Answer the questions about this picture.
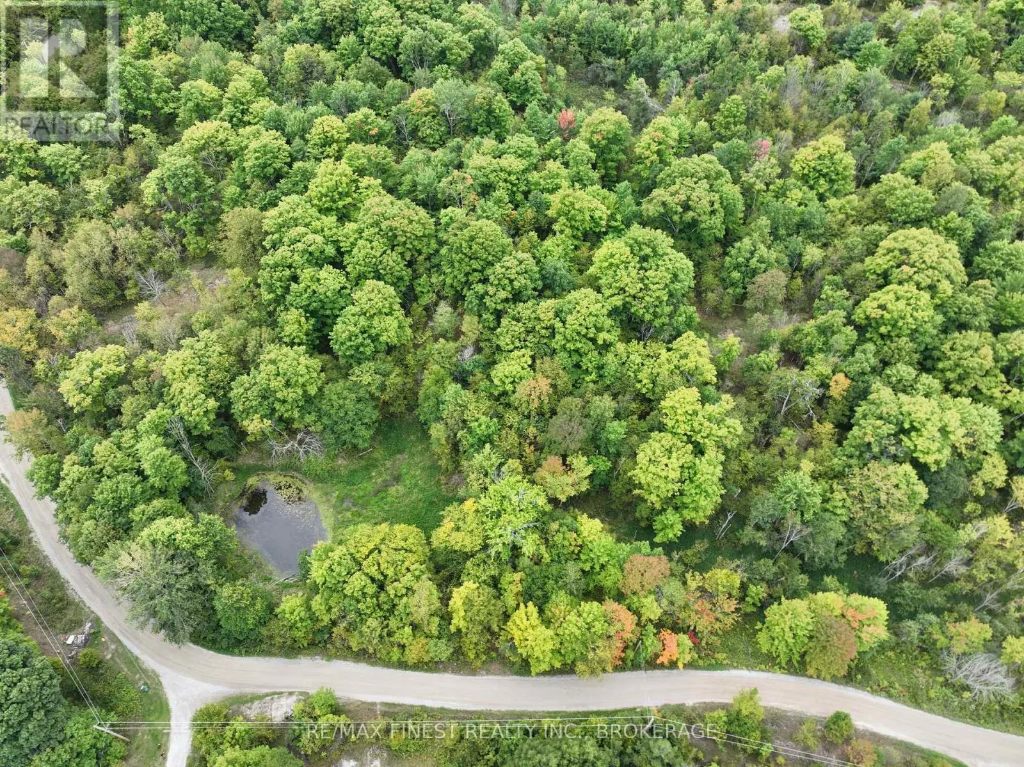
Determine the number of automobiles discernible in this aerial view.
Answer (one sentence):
Not a single automobile can be seen.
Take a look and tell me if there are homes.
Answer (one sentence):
No, this view has no home in it.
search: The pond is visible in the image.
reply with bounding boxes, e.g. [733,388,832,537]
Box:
[232,472,330,584]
